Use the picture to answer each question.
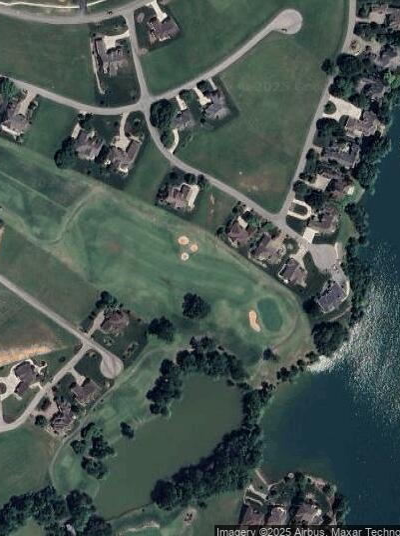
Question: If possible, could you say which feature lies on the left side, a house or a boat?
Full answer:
Visible on the left side is a house.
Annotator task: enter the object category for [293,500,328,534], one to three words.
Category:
house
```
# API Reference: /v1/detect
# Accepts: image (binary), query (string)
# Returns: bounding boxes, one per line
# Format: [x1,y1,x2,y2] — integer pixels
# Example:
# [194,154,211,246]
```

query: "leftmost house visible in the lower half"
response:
[8,362,40,396]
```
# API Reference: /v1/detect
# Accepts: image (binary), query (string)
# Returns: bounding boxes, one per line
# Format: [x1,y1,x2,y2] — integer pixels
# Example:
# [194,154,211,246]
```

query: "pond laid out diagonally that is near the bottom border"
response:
[97,375,245,516]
